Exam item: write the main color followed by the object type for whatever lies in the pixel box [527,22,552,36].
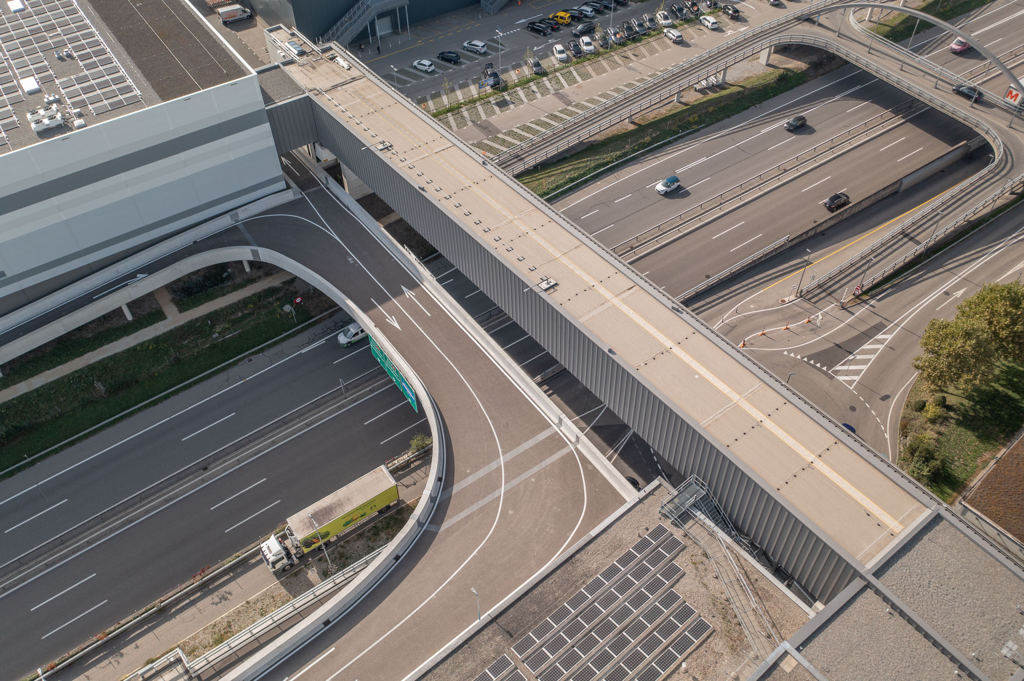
black car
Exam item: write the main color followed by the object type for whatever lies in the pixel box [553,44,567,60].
white car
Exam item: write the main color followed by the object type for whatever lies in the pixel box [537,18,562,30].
black vehicle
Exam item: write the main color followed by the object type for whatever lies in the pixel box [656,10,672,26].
white car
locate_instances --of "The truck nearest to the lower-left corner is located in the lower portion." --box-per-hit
[253,466,398,580]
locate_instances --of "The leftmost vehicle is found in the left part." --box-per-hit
[219,6,253,26]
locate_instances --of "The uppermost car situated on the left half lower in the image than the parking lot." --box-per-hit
[333,323,368,349]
